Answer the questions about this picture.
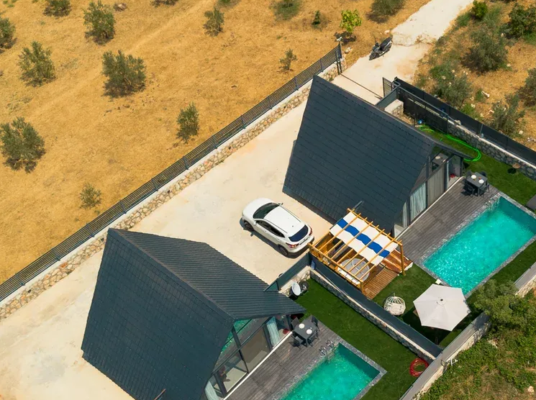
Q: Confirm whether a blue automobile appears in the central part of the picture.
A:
No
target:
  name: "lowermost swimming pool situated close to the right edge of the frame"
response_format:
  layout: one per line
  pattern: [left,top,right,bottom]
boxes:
[416,192,536,301]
